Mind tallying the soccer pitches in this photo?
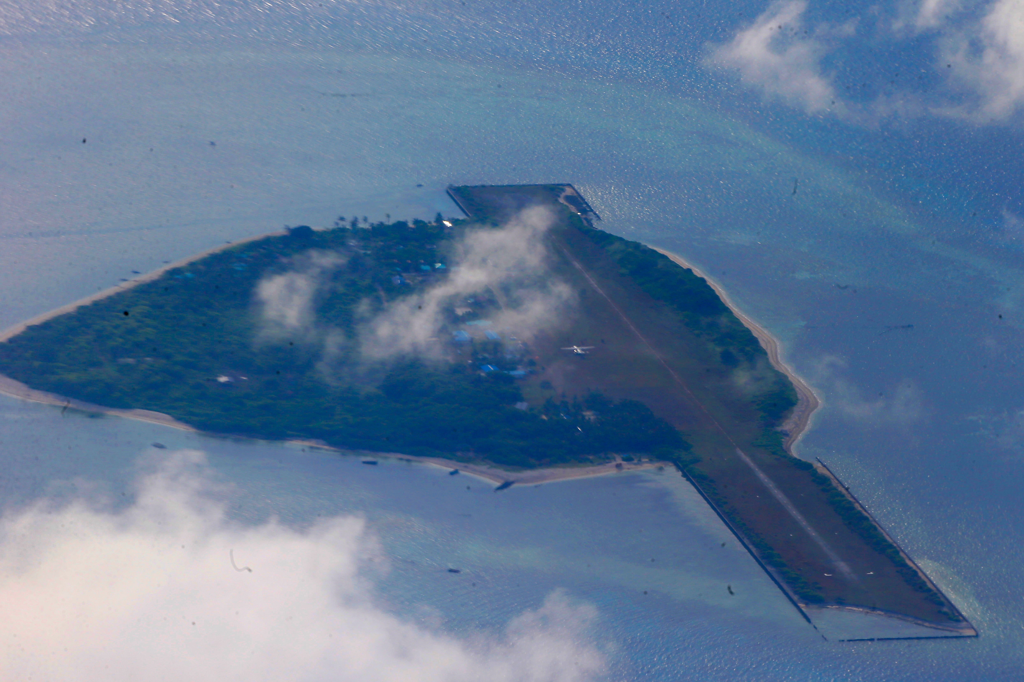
0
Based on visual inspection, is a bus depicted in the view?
No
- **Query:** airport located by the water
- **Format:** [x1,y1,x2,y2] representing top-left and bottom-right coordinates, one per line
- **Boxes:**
[457,190,951,628]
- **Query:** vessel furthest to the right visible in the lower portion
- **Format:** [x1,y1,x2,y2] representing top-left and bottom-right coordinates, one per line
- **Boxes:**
[494,476,517,491]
